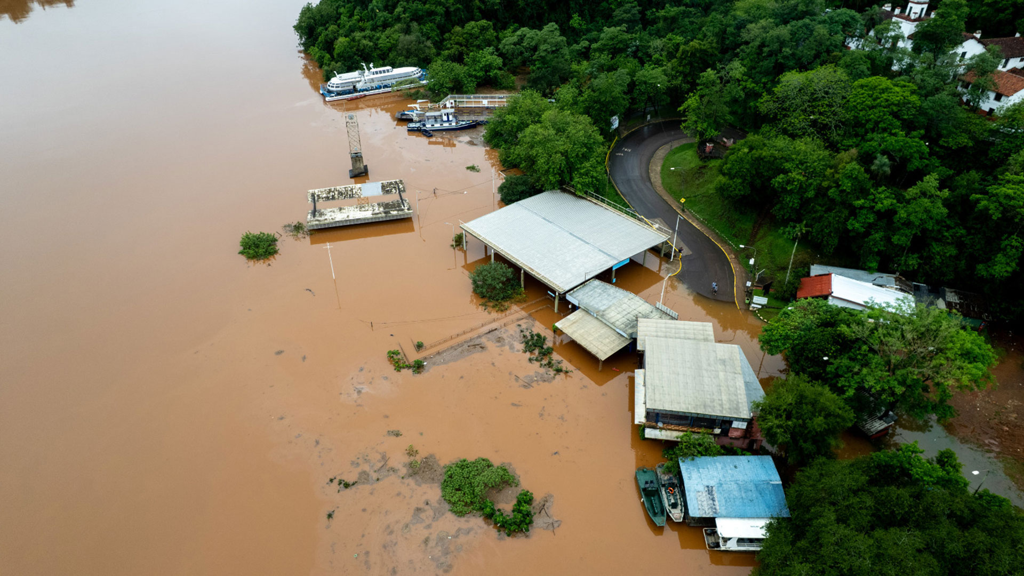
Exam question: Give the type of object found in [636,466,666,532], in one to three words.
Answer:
boat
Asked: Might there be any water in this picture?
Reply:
Yes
